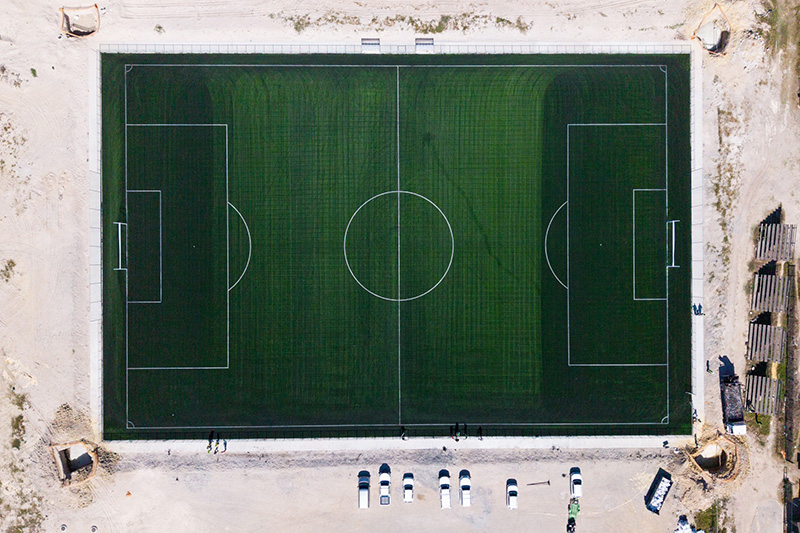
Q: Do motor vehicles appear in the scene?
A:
Yes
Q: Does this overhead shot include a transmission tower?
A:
No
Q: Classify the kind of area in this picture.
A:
sports ground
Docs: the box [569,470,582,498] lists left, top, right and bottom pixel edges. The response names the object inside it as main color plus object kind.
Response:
white vehicle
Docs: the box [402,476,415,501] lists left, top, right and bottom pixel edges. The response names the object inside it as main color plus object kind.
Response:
white vehicle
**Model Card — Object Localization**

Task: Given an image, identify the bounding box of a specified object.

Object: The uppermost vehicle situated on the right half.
[718,373,746,431]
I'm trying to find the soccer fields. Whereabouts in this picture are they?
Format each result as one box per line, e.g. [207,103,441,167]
[102,53,692,440]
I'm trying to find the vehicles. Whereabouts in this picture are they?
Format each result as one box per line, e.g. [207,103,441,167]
[505,482,518,509]
[567,499,581,532]
[458,475,472,506]
[645,474,671,513]
[438,474,451,509]
[569,470,582,498]
[718,373,746,431]
[402,476,415,501]
[357,477,371,507]
[378,469,391,505]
